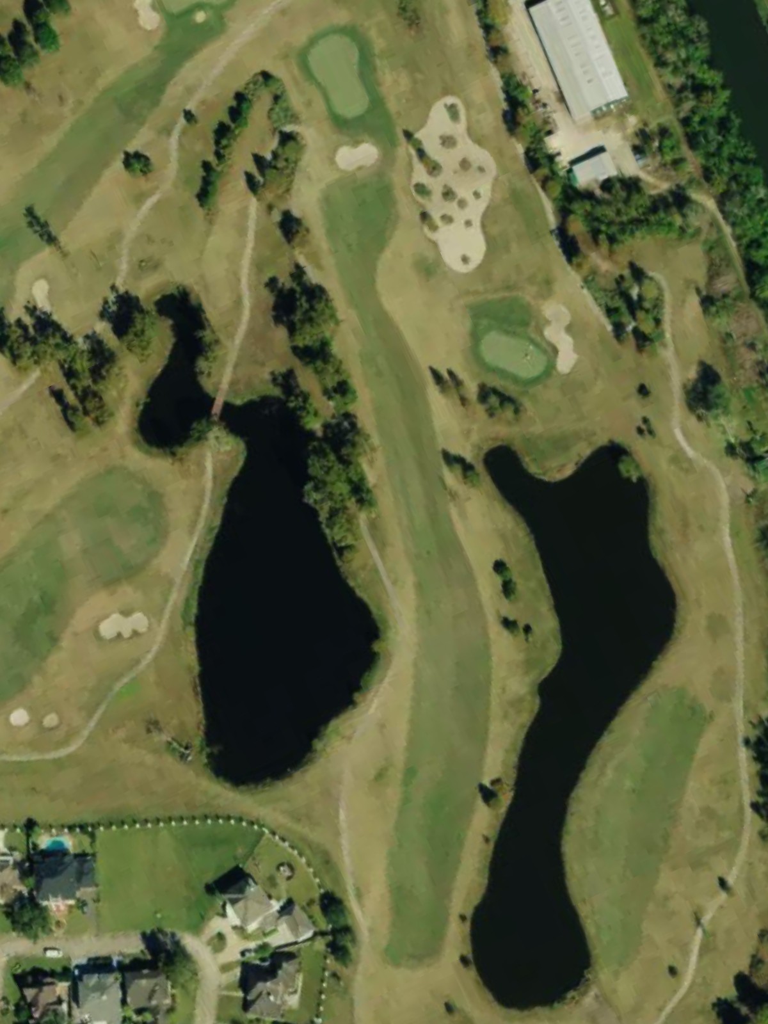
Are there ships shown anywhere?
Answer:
No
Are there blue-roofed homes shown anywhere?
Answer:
No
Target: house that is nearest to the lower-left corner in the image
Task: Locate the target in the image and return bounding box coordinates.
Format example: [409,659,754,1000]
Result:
[13,968,69,1024]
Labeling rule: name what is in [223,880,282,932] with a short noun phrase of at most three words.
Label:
house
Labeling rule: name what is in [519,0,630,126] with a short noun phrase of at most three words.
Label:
warehouse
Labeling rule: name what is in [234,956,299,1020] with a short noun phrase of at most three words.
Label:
house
